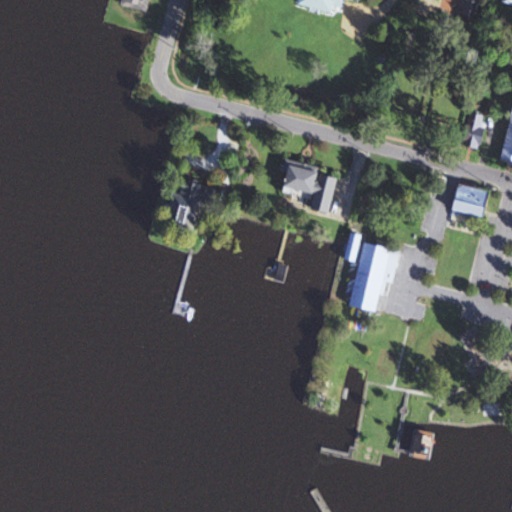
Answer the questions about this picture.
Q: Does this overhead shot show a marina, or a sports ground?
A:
marina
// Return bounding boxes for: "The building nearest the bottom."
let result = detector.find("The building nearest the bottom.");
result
[409,430,436,460]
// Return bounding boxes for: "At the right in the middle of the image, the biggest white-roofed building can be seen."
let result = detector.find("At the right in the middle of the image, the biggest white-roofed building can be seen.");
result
[350,242,400,313]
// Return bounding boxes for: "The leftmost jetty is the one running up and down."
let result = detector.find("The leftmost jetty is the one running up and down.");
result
[172,253,192,317]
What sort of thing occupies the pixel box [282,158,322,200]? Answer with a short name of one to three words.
house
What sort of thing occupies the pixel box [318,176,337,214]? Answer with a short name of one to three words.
building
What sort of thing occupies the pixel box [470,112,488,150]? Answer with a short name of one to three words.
house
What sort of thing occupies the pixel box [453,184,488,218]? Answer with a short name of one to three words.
building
